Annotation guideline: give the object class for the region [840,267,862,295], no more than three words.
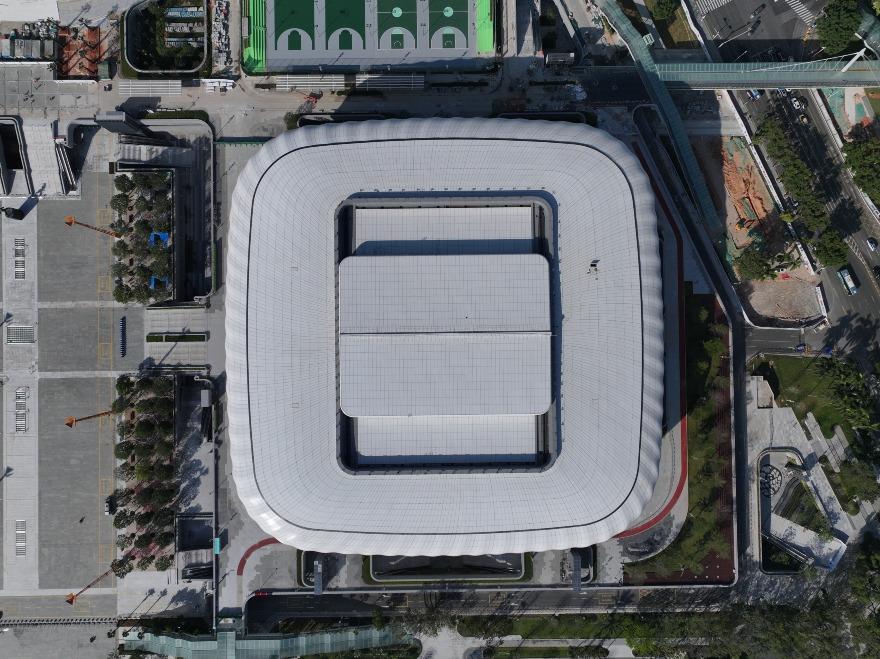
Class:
bus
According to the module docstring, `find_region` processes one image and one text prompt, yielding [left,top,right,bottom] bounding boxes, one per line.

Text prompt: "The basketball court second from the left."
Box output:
[326,0,365,50]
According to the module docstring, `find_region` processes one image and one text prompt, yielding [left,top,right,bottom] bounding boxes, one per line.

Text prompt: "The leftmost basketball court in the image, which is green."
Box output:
[274,0,314,50]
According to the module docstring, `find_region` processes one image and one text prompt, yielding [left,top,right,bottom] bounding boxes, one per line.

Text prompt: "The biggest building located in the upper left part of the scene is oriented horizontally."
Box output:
[95,111,142,132]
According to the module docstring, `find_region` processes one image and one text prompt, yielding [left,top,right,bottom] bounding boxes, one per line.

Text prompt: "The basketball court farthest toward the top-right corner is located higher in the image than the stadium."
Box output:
[429,0,468,50]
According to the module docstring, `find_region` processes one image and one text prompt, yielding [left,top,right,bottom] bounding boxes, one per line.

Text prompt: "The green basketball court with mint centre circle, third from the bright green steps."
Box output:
[377,0,417,50]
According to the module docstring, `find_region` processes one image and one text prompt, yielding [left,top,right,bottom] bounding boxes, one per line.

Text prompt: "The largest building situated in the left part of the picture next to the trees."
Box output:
[176,515,215,581]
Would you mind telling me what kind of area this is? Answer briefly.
sports ground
